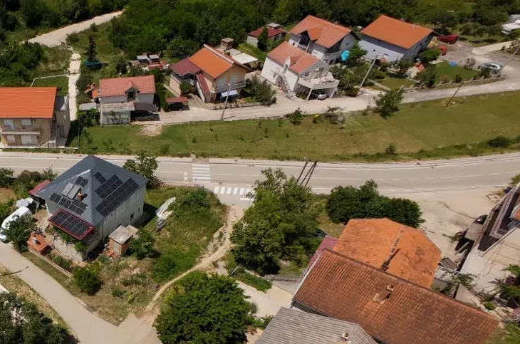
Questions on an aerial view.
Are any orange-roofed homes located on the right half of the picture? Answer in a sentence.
Yes, looking on the right half of the picture, one can make out an orange-roofed home.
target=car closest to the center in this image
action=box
[307,88,333,100]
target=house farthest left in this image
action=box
[0,88,70,150]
